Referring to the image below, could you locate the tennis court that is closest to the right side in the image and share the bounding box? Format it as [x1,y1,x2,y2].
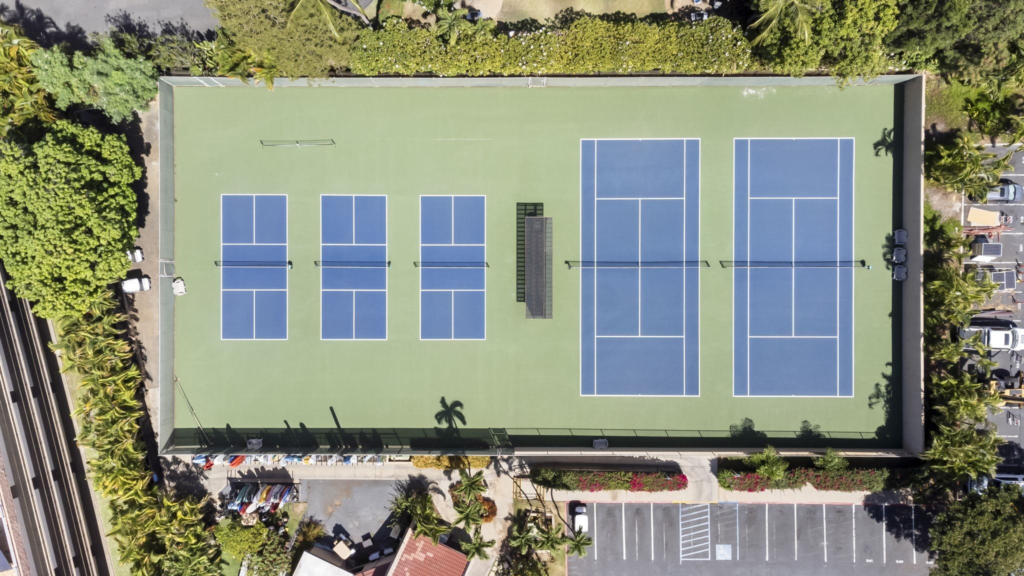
[734,138,854,397]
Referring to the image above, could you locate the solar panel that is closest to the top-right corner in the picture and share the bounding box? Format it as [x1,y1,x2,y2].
[982,243,1003,256]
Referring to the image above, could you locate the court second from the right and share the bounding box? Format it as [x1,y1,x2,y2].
[581,138,700,396]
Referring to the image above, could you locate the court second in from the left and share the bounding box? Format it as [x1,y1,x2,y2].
[321,194,387,340]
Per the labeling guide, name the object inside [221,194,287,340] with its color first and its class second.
blue sports court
